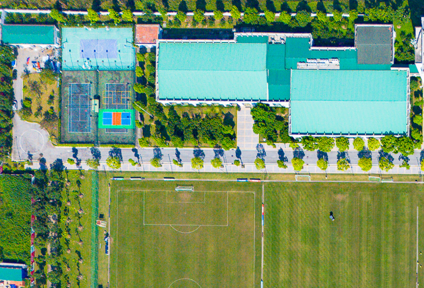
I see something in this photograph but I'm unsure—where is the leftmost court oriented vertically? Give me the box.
[61,70,97,144]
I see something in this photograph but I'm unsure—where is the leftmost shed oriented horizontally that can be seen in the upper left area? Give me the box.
[3,26,60,49]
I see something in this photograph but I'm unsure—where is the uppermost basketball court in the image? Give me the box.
[61,27,135,70]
